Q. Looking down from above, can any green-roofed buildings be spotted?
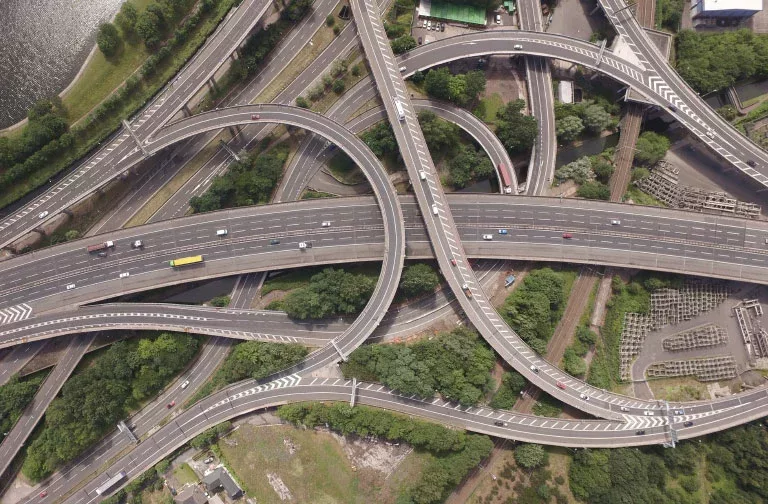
Yes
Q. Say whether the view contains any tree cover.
Yes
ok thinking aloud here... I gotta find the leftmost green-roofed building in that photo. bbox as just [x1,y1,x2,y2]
[418,0,487,30]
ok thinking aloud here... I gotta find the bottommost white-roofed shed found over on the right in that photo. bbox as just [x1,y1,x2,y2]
[556,80,573,104]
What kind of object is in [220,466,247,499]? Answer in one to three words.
house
